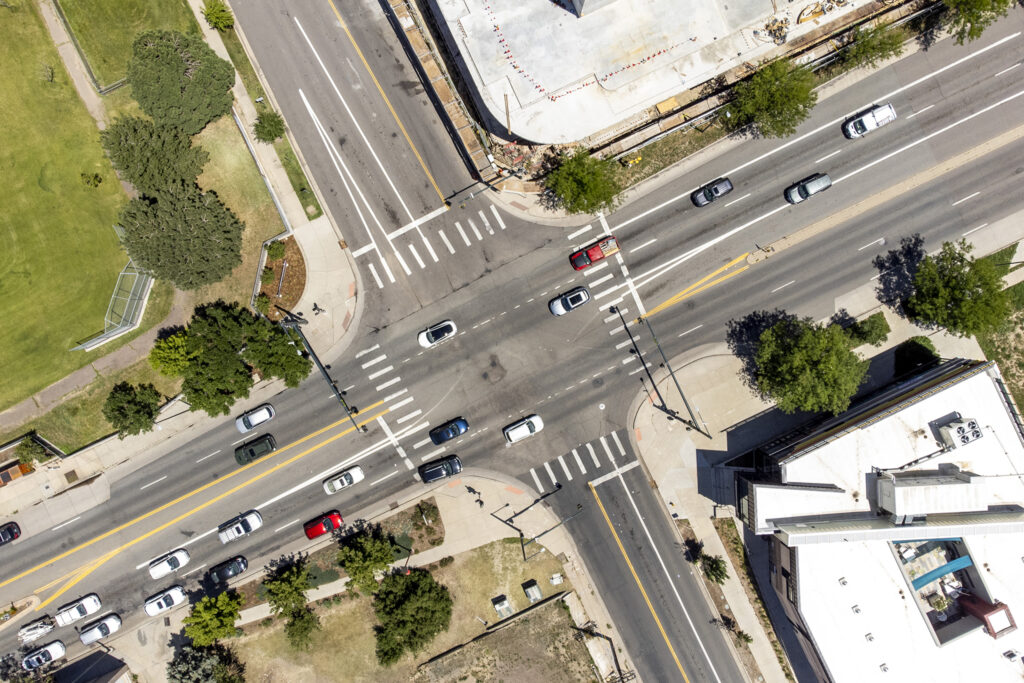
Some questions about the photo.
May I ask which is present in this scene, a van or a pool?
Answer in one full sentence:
Visible in the photo is a van.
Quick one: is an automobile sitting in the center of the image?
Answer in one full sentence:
Yes, I can see an automobile in the center of the image.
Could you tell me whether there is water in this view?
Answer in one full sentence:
No, there is no water in the image.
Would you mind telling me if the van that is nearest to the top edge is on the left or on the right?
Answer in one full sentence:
The van that is nearest to the top edge is on the right side of the image.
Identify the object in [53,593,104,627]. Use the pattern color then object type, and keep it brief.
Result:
white truck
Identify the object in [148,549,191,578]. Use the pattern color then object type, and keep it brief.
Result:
white car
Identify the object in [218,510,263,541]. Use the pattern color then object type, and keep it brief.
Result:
white car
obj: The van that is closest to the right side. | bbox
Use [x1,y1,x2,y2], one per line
[842,102,896,139]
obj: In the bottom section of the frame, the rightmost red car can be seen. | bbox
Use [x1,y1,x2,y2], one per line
[304,510,344,539]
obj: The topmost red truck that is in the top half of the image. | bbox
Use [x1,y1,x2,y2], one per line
[569,235,622,269]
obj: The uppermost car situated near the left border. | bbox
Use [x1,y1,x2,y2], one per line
[0,520,20,542]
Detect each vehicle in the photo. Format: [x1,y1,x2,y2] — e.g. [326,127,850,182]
[236,402,278,431]
[569,235,622,269]
[236,433,278,462]
[144,584,187,615]
[0,520,20,542]
[690,178,733,207]
[550,286,591,315]
[418,319,459,347]
[79,612,123,643]
[218,510,263,541]
[503,413,543,443]
[208,555,250,584]
[23,640,68,671]
[148,549,191,578]
[53,593,104,627]
[842,102,896,139]
[419,456,463,481]
[428,418,470,446]
[304,510,344,539]
[323,466,366,495]
[785,172,831,203]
